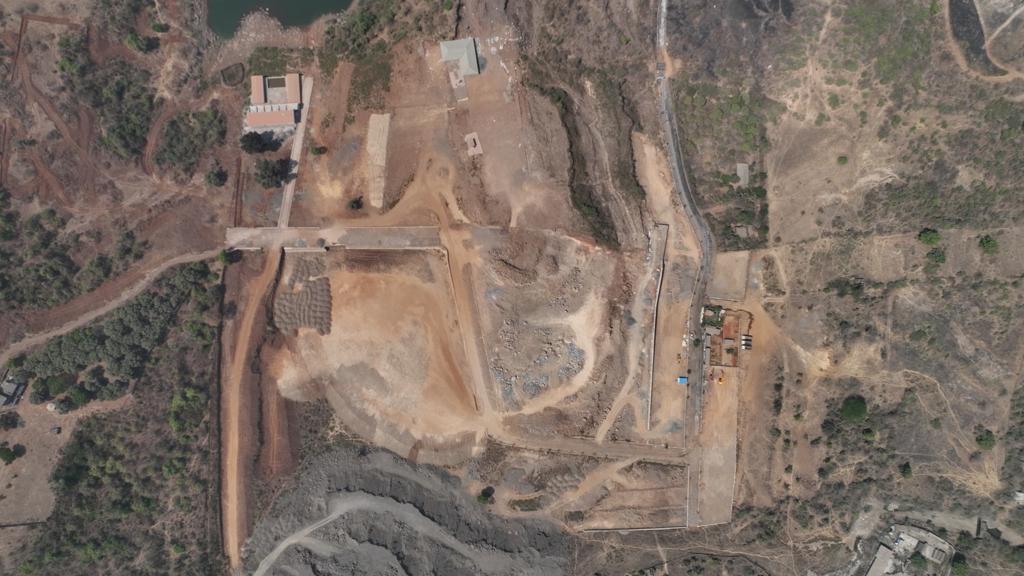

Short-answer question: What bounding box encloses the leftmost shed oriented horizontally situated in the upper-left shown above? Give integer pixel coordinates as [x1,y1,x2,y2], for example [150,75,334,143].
[246,109,296,128]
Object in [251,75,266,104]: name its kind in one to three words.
shed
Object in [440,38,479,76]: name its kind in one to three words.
building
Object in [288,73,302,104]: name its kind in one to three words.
shed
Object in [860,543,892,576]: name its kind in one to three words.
building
